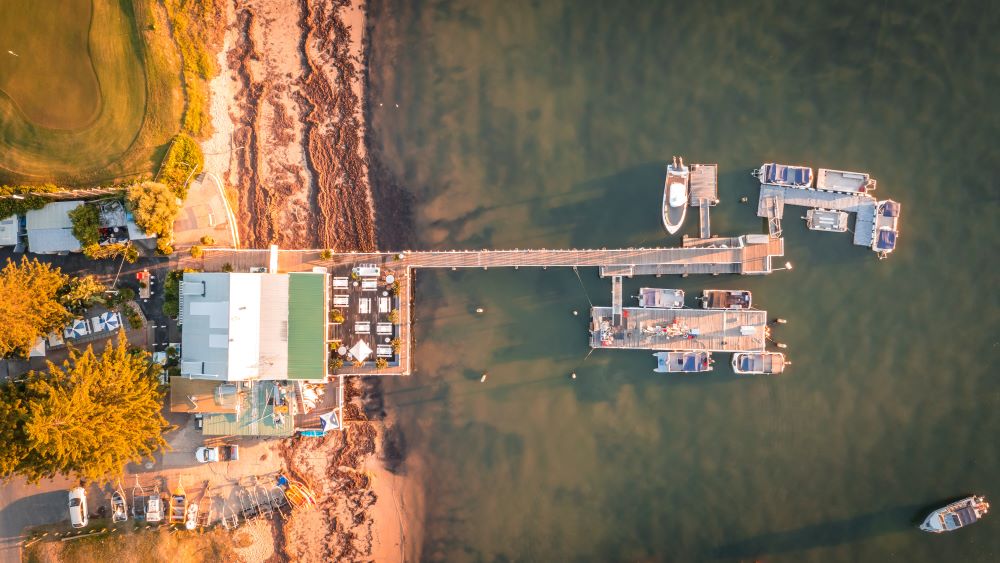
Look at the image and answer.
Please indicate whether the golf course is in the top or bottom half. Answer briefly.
top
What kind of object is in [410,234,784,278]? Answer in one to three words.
pier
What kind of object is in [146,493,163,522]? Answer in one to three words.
boat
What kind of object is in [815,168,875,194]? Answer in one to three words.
boat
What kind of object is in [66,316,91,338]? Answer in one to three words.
umbrella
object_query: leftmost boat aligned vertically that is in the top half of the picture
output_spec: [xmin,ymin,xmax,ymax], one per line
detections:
[664,156,688,234]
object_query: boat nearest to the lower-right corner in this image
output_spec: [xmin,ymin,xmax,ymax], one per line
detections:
[918,490,990,530]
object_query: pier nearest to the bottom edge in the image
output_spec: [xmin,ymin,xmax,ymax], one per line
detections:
[590,307,768,352]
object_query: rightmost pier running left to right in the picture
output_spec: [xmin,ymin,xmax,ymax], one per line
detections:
[757,183,879,248]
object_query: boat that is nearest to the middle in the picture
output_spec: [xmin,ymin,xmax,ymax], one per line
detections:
[631,288,685,308]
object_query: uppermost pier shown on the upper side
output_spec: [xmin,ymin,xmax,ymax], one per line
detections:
[689,164,718,207]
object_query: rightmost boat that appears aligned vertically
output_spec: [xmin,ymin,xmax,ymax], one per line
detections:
[870,202,900,261]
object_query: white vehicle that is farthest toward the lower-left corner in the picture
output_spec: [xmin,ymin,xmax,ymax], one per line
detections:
[67,486,93,528]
